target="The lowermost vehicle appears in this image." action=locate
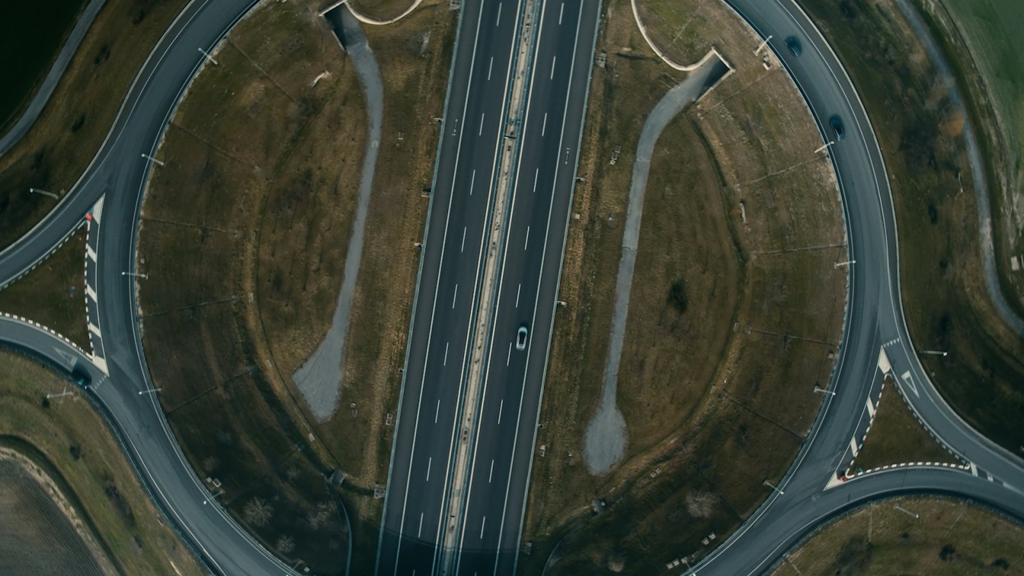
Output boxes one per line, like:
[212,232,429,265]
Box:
[71,367,94,389]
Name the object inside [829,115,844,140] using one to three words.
car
